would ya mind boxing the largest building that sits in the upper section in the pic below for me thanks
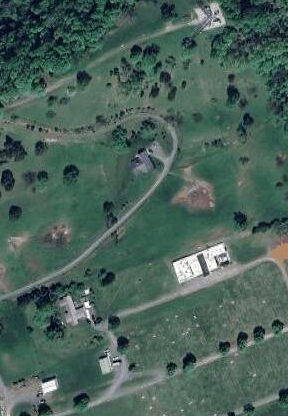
[132,149,155,174]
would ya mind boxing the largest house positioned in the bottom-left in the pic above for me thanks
[58,297,89,325]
